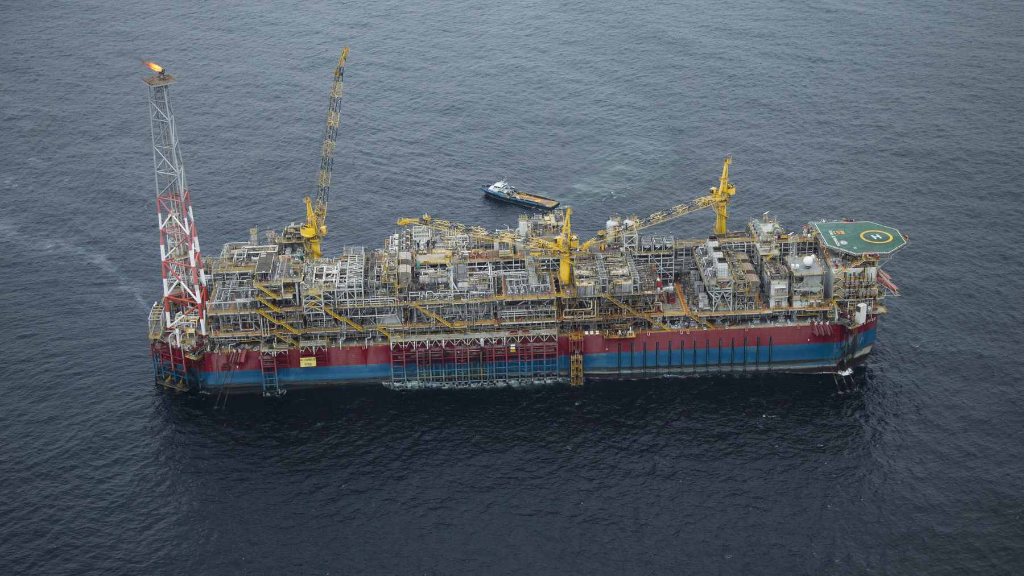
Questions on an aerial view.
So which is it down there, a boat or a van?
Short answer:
boat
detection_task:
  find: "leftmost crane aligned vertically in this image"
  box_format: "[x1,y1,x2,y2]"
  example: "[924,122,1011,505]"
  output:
[297,44,347,260]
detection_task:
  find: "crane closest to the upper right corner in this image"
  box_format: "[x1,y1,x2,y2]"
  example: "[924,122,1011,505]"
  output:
[581,153,738,248]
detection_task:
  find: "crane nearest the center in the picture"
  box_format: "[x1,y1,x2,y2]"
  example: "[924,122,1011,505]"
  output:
[393,203,581,289]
